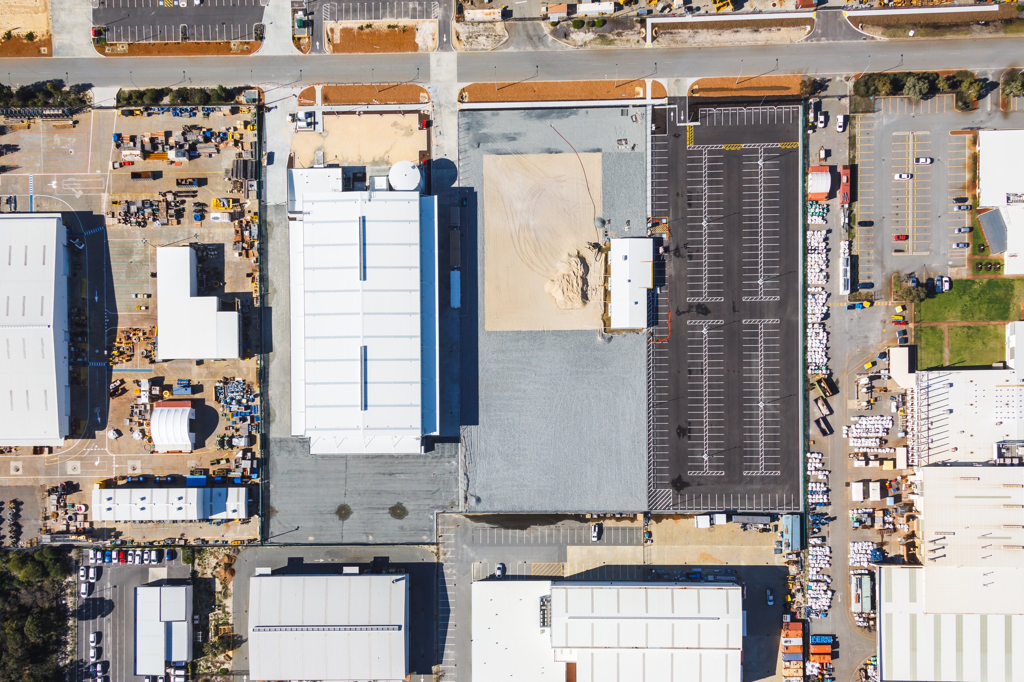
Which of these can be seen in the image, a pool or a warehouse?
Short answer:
warehouse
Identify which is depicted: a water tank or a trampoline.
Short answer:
water tank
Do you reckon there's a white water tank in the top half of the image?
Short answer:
Yes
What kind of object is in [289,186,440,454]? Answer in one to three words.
warehouse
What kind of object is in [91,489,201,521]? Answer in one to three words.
shed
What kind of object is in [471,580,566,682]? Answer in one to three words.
building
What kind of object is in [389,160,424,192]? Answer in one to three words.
water tank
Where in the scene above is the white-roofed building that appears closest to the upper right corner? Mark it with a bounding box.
[972,130,1024,211]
